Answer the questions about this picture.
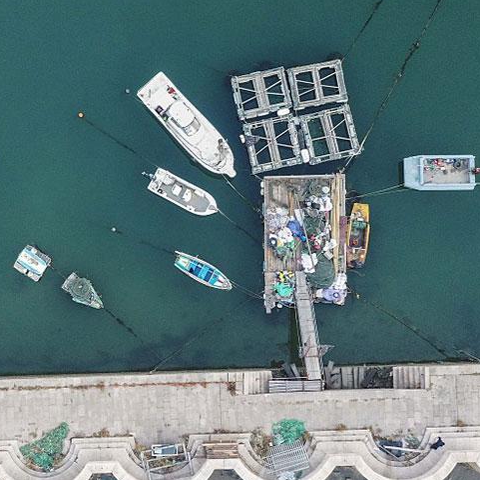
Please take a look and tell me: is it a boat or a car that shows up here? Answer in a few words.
boat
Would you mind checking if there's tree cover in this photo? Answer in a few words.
No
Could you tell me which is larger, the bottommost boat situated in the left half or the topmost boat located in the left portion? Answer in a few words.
the topmost boat located in the left portion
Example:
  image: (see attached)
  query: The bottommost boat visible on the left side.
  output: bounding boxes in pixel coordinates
[61,271,103,309]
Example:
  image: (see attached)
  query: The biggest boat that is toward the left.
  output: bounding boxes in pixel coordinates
[138,69,238,175]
